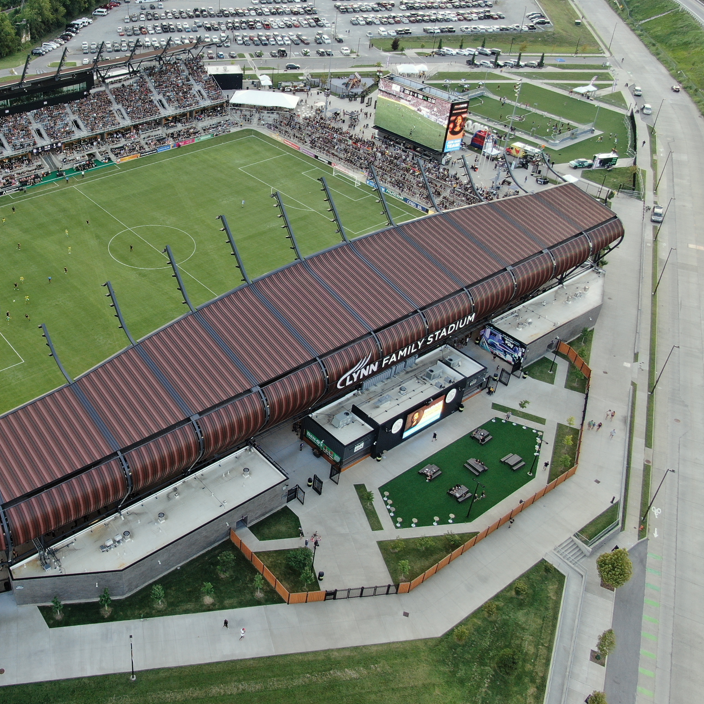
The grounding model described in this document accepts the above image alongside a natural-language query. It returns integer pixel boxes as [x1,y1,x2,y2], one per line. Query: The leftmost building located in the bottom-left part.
[9,445,290,606]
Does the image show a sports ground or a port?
sports ground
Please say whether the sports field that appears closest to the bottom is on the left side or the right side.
left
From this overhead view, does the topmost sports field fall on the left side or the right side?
right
